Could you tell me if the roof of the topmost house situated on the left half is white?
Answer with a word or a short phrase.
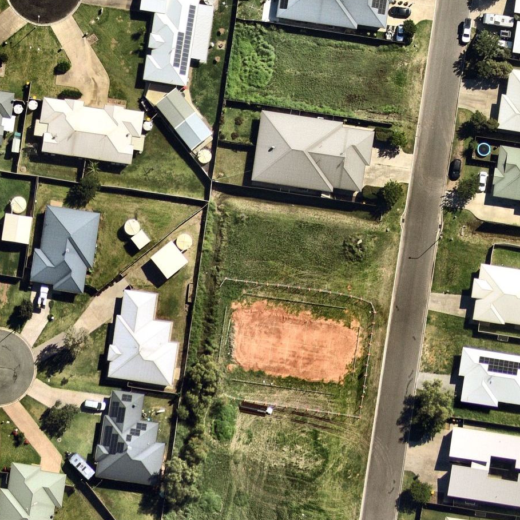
Yes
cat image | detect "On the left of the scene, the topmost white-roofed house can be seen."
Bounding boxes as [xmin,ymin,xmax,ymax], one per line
[139,0,213,86]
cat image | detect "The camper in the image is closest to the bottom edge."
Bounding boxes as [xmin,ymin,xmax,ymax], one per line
[68,452,95,480]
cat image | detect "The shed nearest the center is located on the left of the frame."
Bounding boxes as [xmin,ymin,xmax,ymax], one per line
[151,241,189,279]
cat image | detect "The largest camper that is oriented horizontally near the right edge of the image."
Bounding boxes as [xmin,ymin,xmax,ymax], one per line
[478,14,515,27]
